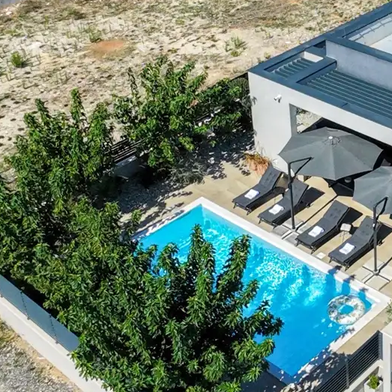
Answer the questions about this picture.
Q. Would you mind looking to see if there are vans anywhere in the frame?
No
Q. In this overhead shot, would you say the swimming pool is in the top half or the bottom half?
bottom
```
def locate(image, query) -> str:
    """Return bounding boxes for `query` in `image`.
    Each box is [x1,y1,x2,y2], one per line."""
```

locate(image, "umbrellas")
[350,167,392,290]
[271,126,386,241]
